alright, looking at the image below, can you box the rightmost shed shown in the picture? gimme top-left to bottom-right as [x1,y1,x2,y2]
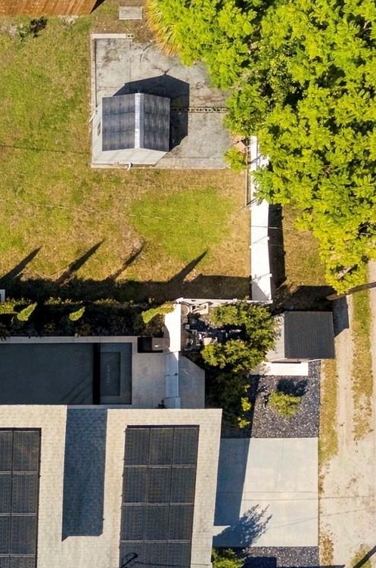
[261,311,336,362]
